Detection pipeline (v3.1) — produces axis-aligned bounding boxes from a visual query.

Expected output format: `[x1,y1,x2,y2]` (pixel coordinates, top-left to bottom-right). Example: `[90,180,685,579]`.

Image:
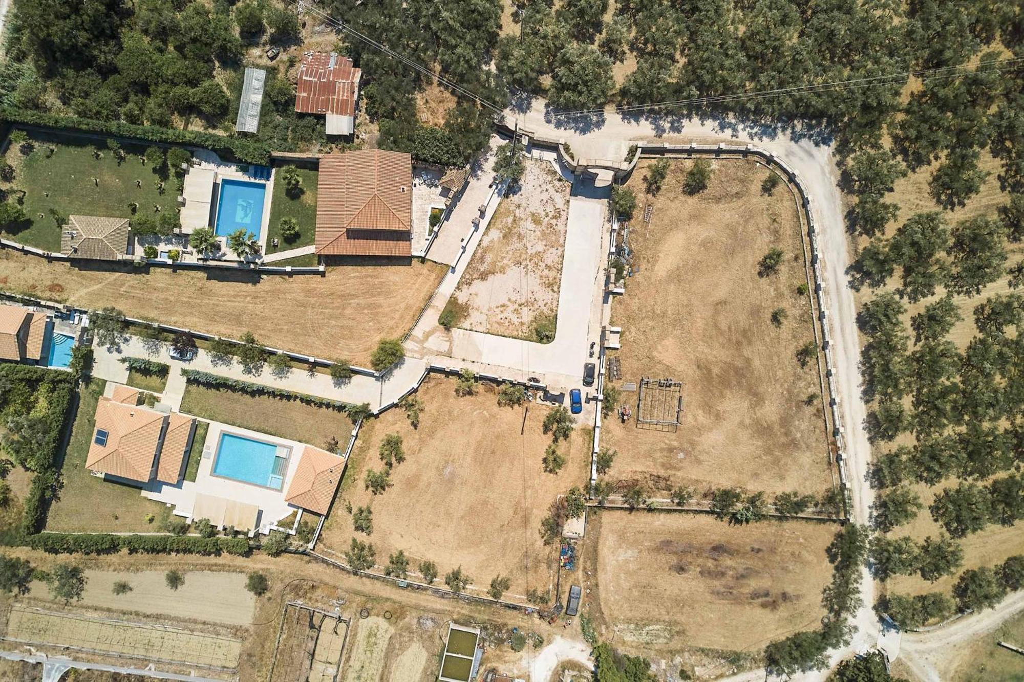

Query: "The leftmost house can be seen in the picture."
[0,306,53,361]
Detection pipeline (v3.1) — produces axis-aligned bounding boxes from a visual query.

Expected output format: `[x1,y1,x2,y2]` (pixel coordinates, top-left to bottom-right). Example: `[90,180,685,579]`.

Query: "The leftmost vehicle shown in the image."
[169,348,196,362]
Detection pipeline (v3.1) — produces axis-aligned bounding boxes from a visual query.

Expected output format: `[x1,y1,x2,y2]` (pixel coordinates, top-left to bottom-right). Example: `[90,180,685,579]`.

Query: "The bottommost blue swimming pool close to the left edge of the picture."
[45,331,77,370]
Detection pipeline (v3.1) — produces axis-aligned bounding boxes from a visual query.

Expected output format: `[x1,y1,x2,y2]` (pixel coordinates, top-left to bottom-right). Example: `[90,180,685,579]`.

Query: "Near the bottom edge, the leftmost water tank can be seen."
[438,621,481,682]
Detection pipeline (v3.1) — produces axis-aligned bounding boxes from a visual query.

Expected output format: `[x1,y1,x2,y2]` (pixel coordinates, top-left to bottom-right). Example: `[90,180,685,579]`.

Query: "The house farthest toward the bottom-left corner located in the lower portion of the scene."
[85,383,193,484]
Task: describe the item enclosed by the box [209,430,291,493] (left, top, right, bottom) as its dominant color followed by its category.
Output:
blue swimming pool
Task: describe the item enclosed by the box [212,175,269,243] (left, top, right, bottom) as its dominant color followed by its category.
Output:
blue swimming pool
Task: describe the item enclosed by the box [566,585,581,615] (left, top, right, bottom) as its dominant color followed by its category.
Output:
gray car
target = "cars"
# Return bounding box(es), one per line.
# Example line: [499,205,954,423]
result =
[583,362,595,386]
[570,389,583,413]
[566,585,581,615]
[169,348,196,362]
